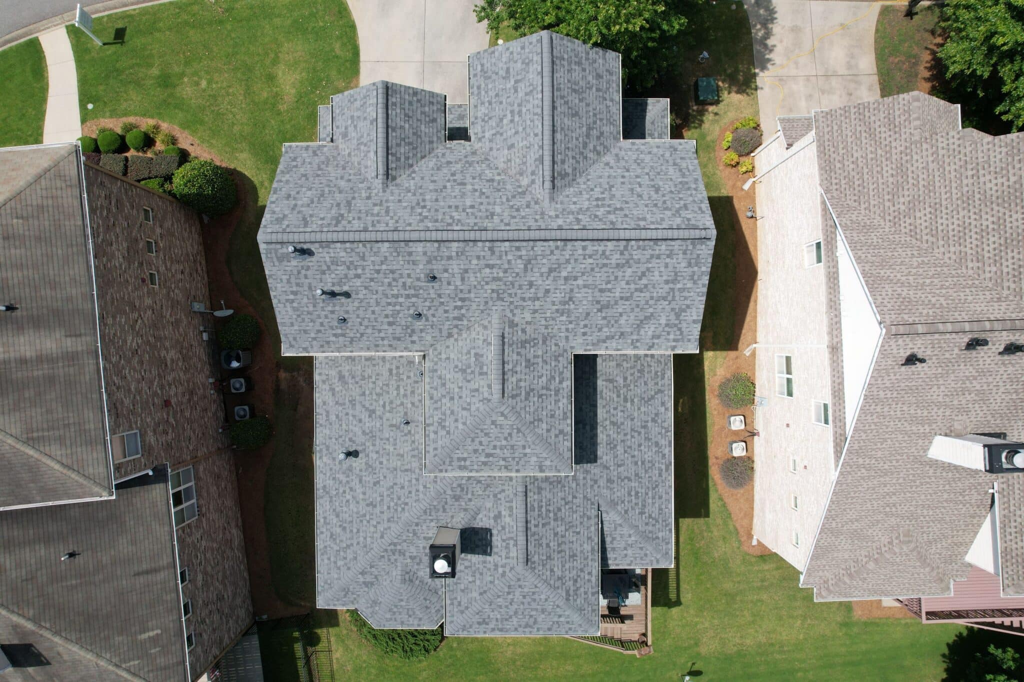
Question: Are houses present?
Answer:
Yes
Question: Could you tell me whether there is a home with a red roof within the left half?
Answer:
No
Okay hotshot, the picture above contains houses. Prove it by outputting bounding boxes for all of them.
[743,91,1024,603]
[258,31,716,635]
[0,142,255,682]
